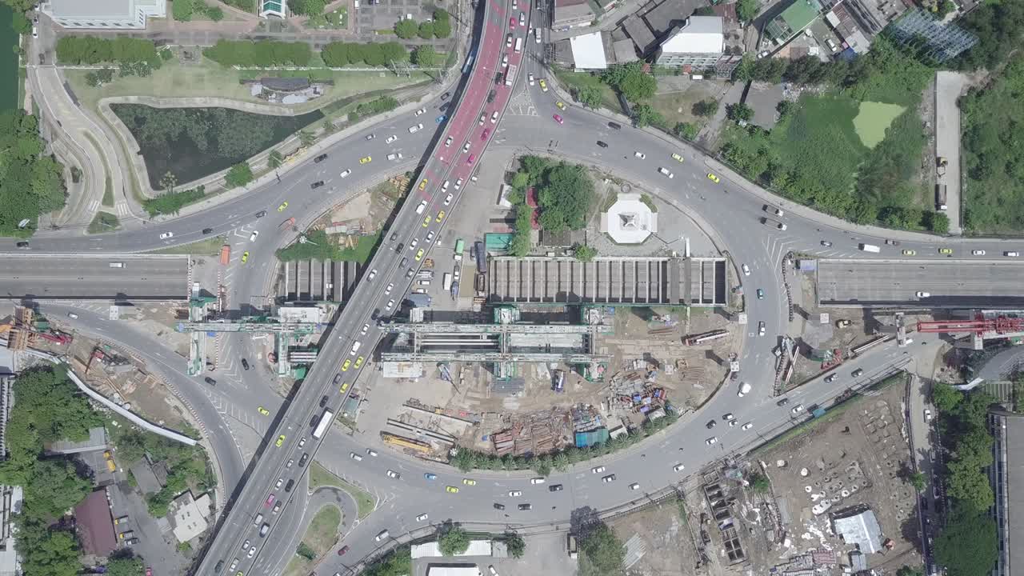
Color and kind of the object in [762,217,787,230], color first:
gray vehicle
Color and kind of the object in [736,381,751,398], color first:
white vehicle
